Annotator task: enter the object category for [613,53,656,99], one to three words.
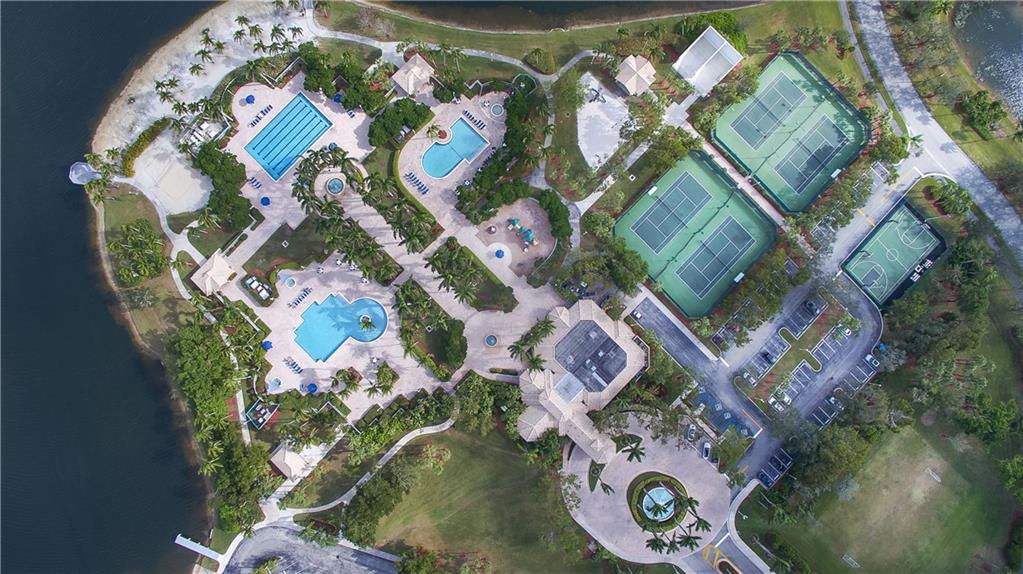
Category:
building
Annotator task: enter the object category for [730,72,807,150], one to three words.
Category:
tennis court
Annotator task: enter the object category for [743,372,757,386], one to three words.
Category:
vehicle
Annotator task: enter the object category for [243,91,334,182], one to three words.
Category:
swimming pool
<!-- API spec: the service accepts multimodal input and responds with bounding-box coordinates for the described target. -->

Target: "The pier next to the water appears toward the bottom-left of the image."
[175,534,221,562]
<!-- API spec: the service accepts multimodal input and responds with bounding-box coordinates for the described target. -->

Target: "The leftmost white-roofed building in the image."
[189,249,236,295]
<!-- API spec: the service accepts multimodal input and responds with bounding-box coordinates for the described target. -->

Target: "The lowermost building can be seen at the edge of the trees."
[269,445,308,482]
